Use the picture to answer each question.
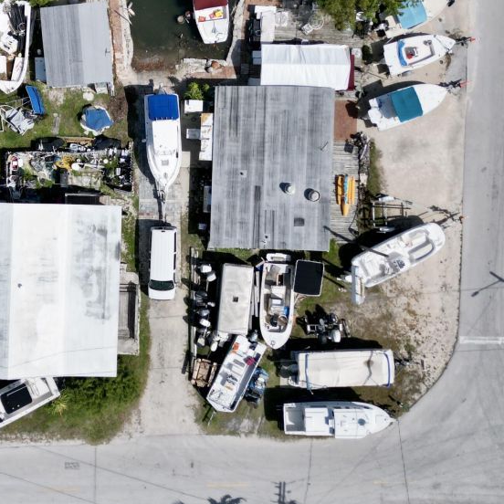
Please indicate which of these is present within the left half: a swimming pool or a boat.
boat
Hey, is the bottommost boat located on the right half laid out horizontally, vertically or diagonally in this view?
horizontally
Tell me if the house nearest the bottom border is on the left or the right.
left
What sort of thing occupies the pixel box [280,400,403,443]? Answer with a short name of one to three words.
boat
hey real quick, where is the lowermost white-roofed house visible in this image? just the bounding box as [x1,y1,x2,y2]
[0,203,121,381]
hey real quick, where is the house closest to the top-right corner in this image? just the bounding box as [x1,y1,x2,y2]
[209,86,335,251]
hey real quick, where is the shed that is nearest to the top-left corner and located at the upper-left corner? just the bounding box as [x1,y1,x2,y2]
[39,1,113,87]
